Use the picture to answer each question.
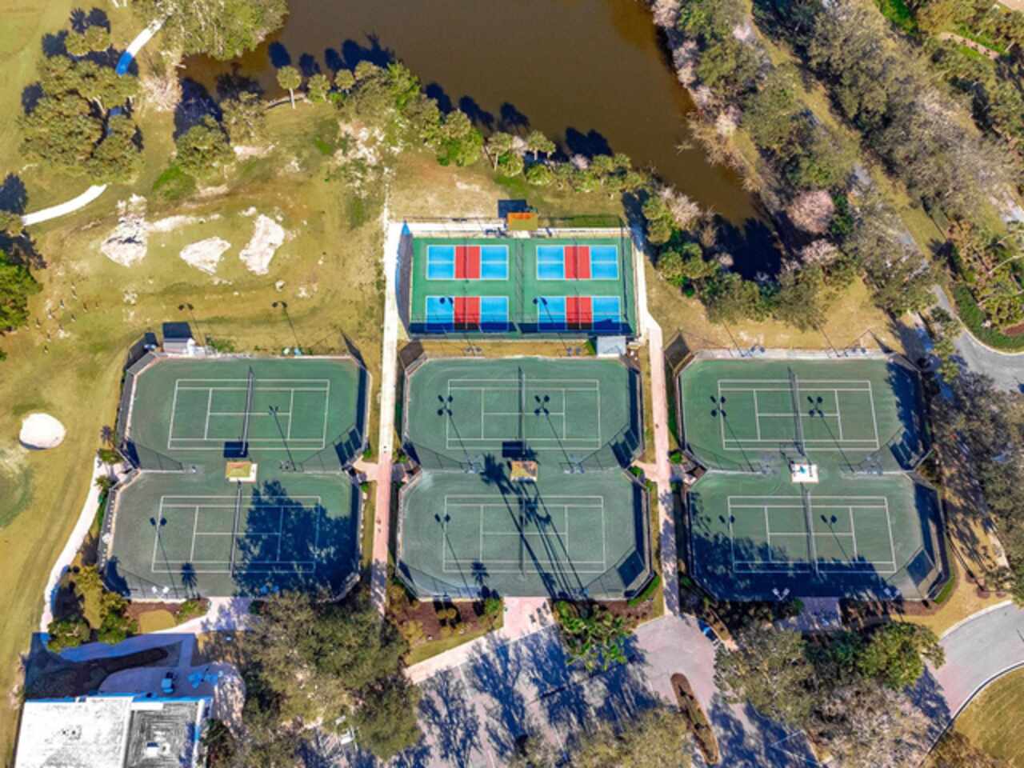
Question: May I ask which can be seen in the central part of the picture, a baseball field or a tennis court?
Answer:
tennis court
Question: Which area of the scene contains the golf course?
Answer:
left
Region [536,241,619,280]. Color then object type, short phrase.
blue sports court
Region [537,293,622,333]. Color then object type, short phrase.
blue sports court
